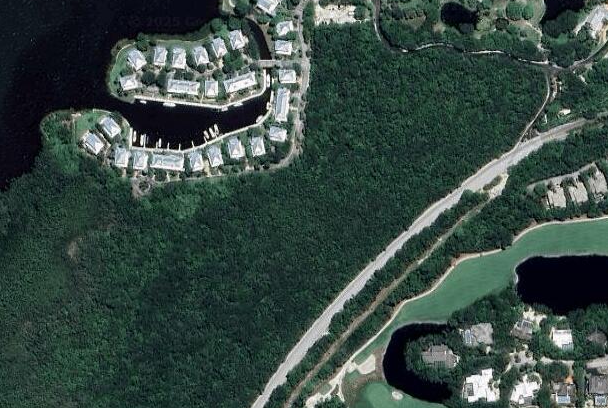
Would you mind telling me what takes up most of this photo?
trees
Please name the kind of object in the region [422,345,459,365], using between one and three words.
house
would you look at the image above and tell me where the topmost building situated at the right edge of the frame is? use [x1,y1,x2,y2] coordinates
[586,3,608,35]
